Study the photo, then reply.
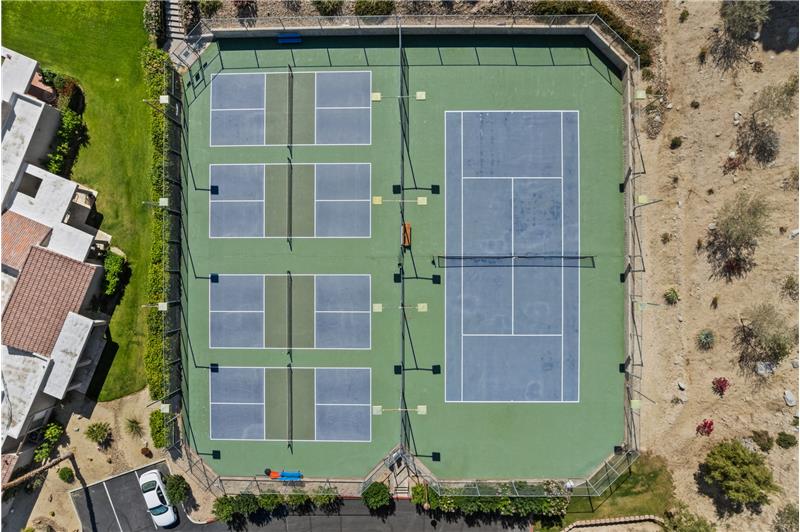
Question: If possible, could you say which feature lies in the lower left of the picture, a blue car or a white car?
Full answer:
Visible in the lower left of the picture is a white car.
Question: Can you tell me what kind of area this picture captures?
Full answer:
This looks like a sports ground.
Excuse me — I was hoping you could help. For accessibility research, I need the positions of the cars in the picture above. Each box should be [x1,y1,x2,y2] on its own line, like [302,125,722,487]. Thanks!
[140,470,178,529]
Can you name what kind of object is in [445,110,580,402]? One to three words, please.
tennis court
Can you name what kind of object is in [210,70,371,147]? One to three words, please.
sports court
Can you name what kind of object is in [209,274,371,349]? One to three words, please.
sports court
